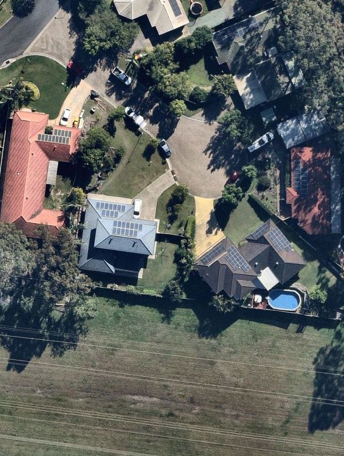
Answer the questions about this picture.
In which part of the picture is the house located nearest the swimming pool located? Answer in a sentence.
The house located nearest the swimming pool is in the right part of the image.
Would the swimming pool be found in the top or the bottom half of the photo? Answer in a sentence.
You can find the swimming pool in the bottom half.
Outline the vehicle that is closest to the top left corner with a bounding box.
[63,56,76,73]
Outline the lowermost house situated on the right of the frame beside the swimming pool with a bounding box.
[192,216,309,299]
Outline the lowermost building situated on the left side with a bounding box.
[78,198,158,279]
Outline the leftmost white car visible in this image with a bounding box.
[59,107,71,126]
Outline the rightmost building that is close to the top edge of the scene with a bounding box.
[209,5,308,109]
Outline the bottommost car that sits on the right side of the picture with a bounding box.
[227,167,242,185]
